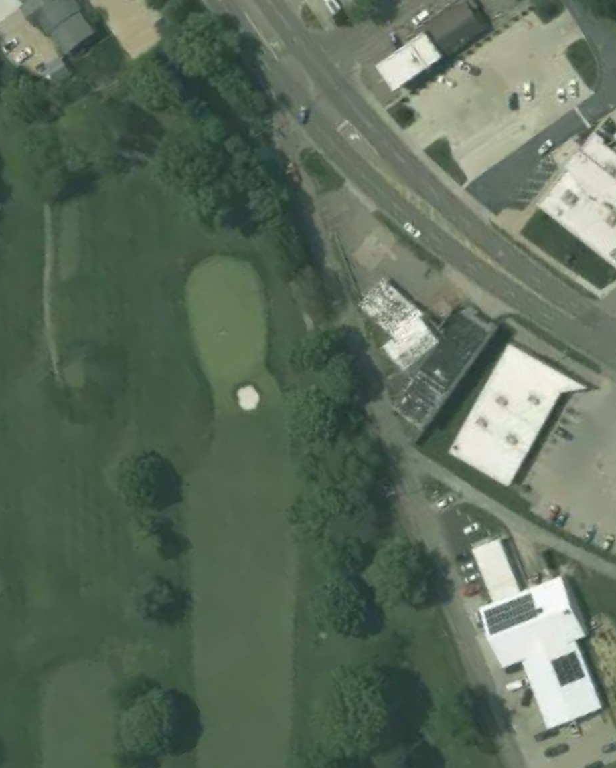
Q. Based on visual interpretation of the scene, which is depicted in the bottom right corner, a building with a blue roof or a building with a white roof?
building with a white roof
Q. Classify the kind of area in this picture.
golf course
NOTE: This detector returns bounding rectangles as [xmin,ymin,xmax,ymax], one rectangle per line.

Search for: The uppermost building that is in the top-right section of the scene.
[427,0,492,57]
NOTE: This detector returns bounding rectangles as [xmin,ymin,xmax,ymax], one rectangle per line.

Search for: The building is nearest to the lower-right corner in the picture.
[473,538,520,600]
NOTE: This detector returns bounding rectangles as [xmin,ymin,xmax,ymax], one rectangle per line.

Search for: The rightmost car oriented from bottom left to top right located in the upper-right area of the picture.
[537,138,553,155]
